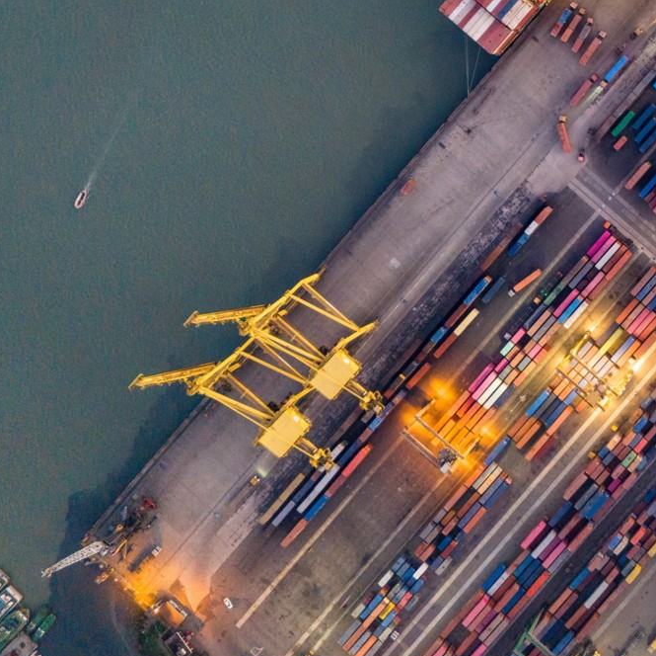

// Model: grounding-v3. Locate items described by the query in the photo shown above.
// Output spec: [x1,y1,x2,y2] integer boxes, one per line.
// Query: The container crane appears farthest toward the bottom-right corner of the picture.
[510,600,587,656]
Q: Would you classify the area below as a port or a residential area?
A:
port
